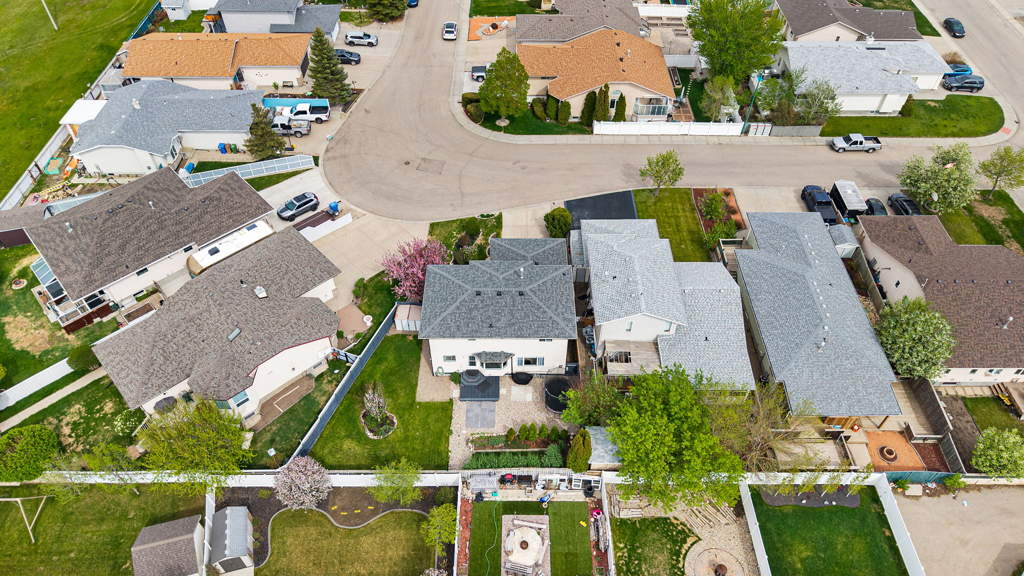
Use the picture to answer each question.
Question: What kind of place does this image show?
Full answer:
What you see here is a residential area.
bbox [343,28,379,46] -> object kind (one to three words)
car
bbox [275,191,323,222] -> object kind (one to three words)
car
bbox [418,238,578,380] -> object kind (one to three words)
house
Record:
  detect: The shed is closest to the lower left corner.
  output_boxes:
[127,515,210,576]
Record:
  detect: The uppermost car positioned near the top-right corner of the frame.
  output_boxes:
[941,17,971,36]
